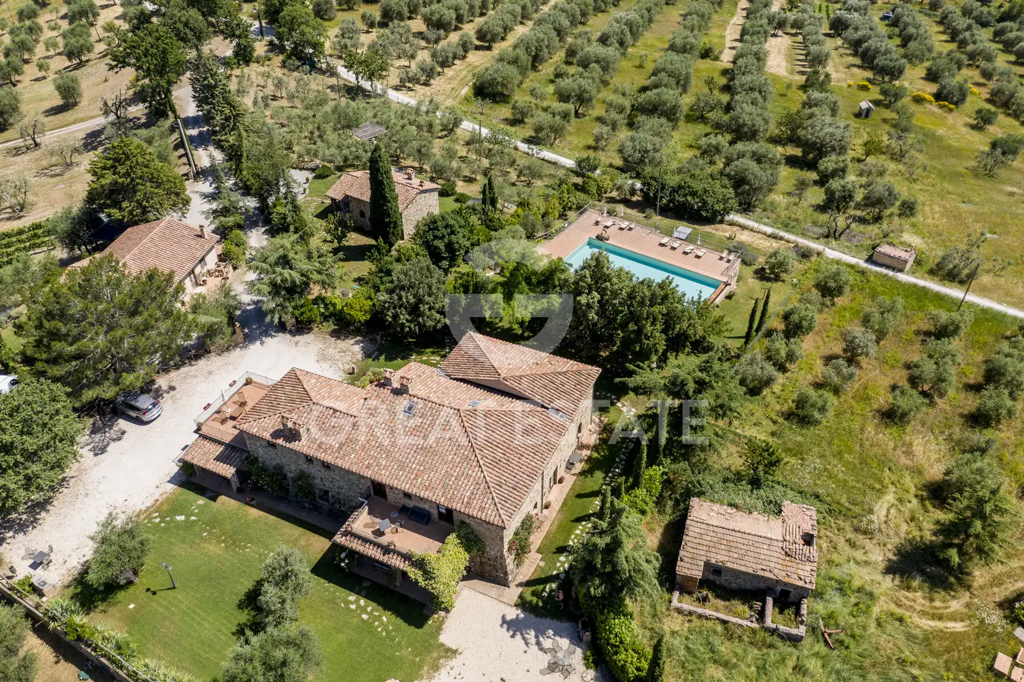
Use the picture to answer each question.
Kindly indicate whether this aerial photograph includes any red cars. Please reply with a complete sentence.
No, the picture doesn't show any red car.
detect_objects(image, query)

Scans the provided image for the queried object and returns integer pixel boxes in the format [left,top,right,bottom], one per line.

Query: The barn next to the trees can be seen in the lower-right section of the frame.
[675,494,820,605]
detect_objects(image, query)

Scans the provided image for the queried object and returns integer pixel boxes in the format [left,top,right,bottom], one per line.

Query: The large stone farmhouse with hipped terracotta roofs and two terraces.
[182,329,604,605]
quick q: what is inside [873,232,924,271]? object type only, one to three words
shed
